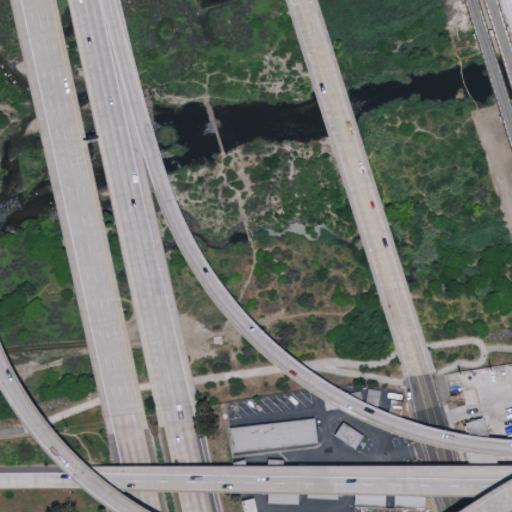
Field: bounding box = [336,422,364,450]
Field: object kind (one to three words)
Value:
building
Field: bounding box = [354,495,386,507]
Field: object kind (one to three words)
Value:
shed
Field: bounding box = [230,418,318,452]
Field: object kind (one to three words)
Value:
building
